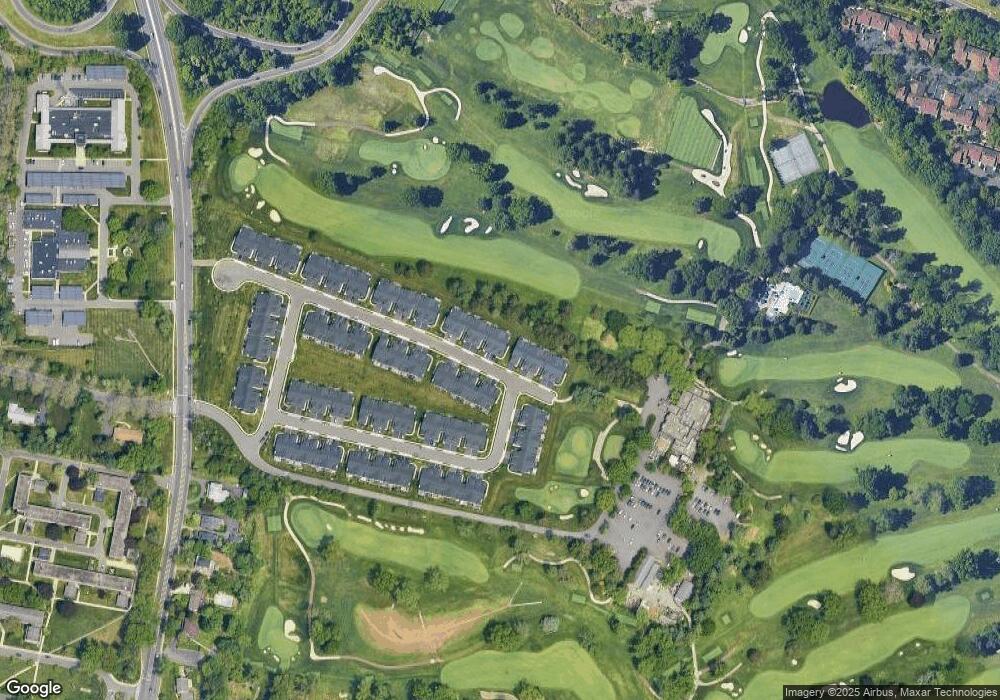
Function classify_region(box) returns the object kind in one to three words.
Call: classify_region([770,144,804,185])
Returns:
tennis court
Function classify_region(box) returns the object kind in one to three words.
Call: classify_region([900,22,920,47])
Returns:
house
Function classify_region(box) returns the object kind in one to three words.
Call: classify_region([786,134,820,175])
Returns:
tennis court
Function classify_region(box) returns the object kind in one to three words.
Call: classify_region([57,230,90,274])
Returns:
building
